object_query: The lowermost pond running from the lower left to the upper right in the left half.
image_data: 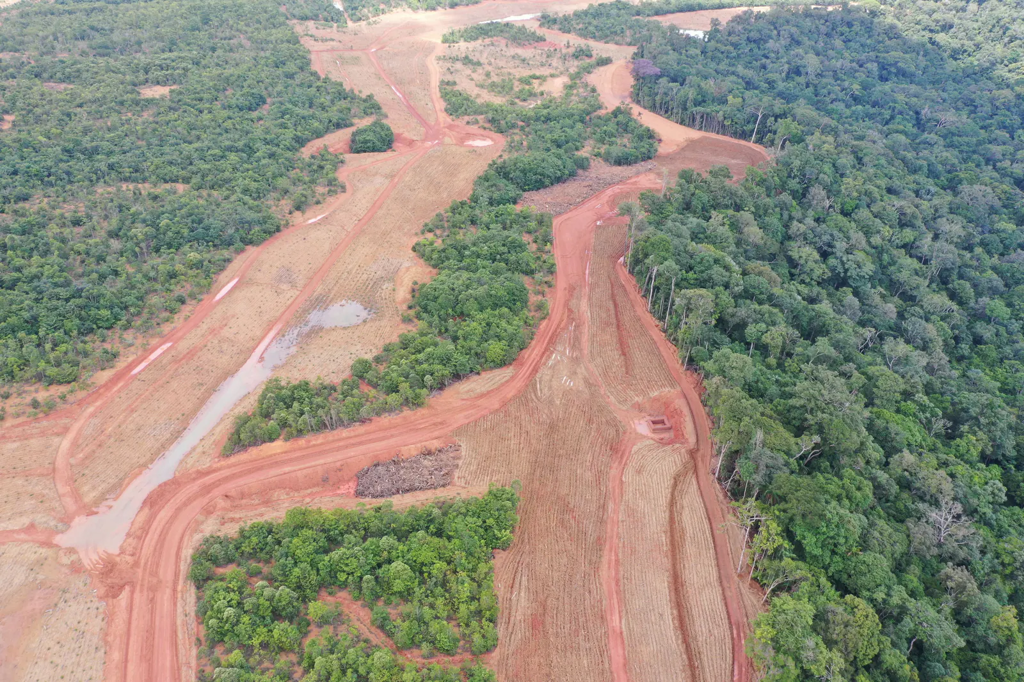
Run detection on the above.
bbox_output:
[58,322,285,569]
